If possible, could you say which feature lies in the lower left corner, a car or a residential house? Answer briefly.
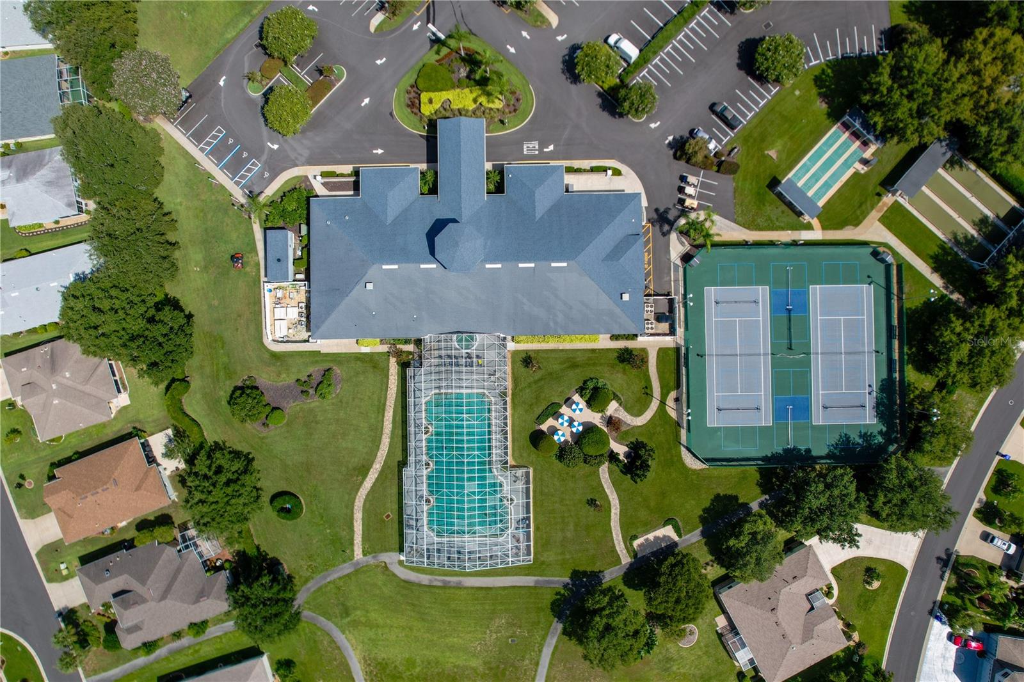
residential house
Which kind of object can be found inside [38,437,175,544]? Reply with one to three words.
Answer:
house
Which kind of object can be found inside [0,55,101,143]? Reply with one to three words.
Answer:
house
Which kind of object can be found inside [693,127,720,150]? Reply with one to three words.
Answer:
car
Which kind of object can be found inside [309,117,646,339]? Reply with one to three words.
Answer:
building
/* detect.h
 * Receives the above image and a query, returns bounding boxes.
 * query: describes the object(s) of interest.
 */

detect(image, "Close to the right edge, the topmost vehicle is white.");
[989,534,1019,552]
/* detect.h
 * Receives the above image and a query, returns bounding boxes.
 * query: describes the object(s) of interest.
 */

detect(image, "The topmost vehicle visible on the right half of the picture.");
[608,33,637,59]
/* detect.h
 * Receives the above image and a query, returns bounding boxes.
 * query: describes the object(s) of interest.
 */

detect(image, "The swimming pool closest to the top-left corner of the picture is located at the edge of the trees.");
[69,68,85,104]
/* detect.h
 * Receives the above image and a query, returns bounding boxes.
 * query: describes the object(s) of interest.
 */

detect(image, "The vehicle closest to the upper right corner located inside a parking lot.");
[715,103,742,127]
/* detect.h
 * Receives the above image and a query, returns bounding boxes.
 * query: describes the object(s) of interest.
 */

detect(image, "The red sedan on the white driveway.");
[955,633,984,650]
